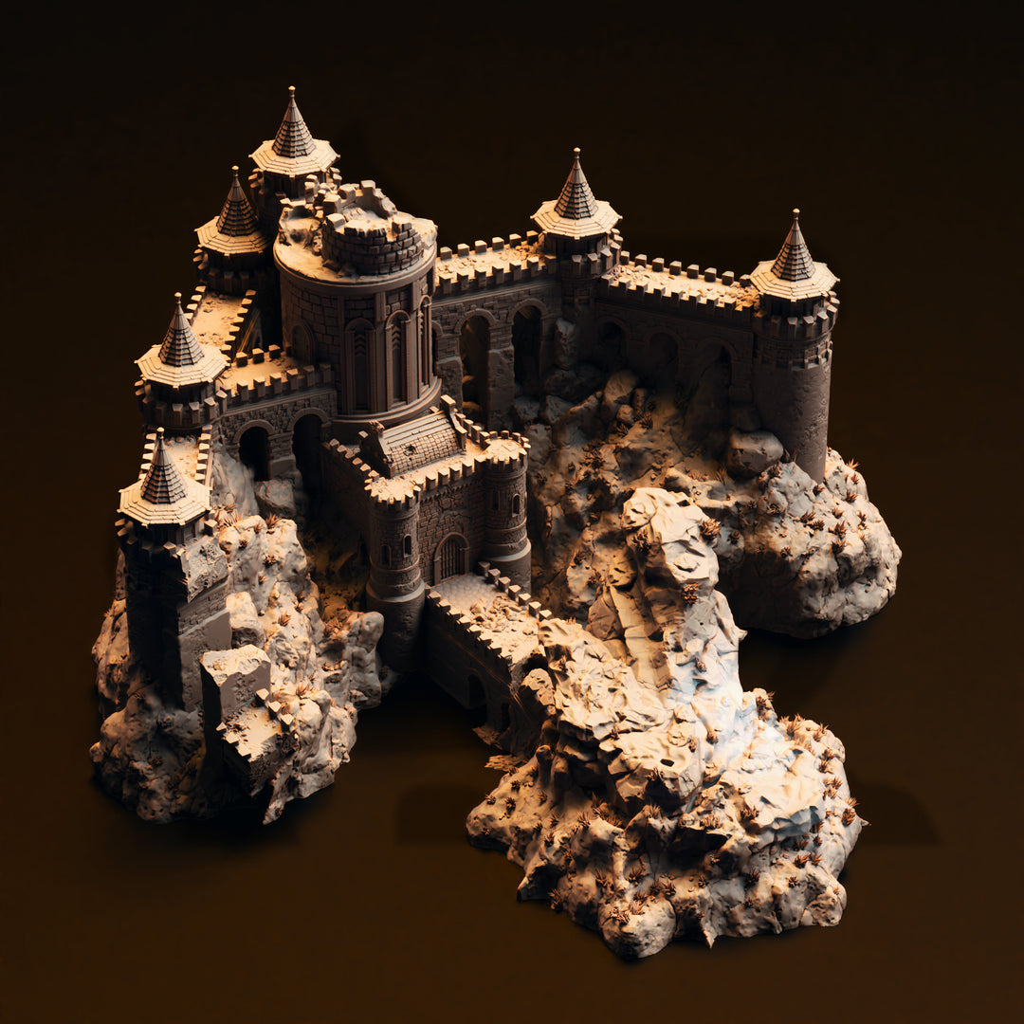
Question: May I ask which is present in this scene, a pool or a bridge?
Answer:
bridge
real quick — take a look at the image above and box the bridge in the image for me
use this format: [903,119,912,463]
[422,551,576,723]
